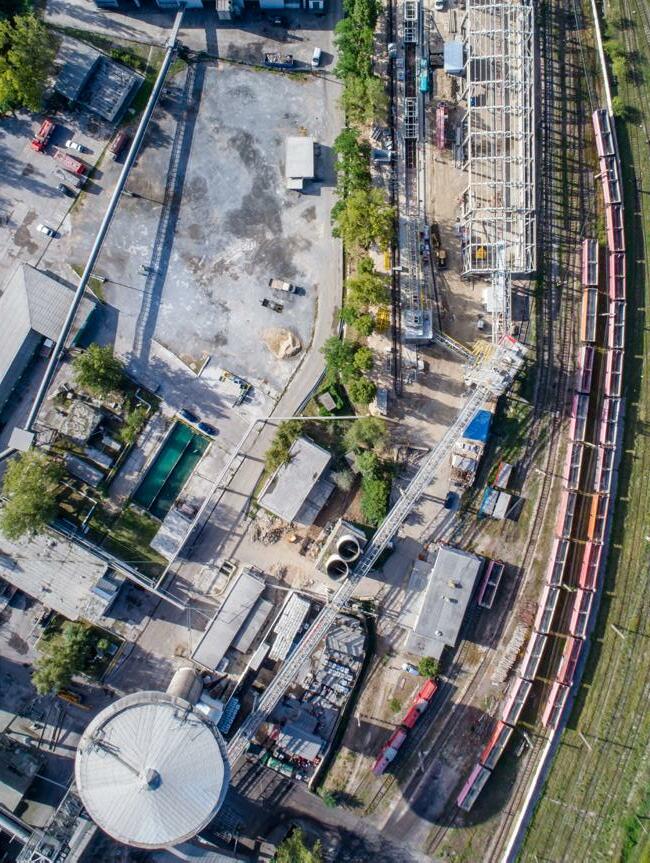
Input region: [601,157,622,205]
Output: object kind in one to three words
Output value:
rail car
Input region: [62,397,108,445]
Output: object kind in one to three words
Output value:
building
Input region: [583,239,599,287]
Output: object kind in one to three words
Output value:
rail car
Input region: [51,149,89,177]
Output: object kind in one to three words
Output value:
truck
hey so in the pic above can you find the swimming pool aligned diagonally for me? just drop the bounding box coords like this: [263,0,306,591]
[130,419,212,519]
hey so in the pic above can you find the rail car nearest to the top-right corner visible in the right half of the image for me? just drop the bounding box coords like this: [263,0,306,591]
[593,109,615,158]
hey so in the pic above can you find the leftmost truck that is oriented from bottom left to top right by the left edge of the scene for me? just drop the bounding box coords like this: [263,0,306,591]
[31,119,57,151]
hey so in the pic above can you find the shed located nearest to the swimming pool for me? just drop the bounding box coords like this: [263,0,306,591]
[149,504,198,560]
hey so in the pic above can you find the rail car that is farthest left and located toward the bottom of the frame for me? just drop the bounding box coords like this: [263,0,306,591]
[372,722,407,775]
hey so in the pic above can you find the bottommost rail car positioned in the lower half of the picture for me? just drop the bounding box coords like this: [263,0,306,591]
[458,761,492,812]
